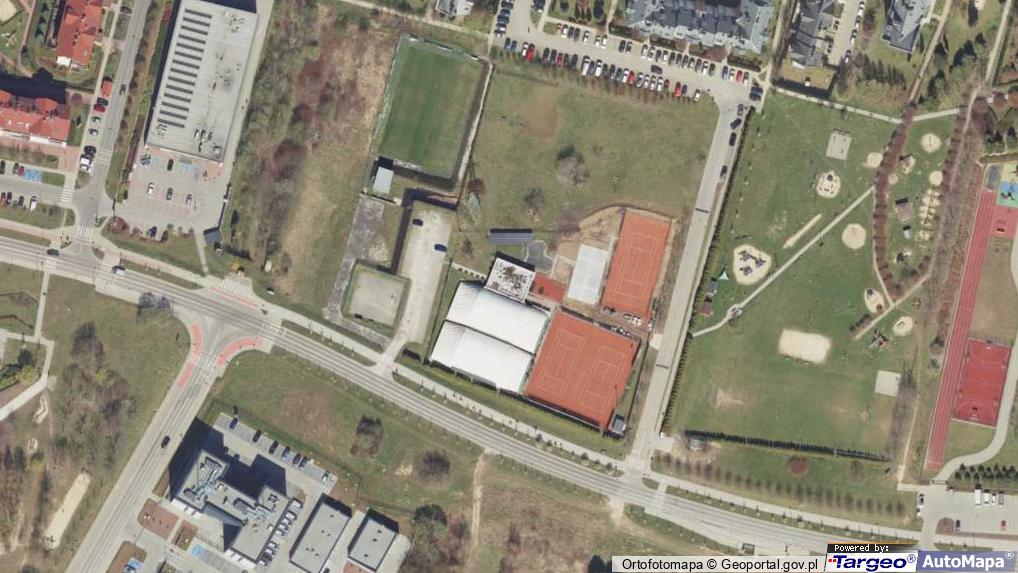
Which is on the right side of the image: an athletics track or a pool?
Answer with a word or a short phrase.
athletics track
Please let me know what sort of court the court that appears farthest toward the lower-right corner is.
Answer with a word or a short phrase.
basketball court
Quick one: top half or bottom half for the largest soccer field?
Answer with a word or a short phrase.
top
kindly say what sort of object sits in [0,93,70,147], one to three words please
house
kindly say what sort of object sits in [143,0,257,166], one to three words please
warehouse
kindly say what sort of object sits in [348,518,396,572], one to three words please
building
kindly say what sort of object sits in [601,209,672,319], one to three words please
tennis court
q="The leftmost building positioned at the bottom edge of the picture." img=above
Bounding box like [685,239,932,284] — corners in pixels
[172,450,290,568]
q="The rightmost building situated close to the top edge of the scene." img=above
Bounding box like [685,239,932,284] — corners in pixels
[879,0,933,52]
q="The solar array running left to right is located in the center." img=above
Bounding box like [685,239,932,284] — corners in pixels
[490,231,534,245]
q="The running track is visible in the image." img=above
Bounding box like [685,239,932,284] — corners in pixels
[924,187,998,470]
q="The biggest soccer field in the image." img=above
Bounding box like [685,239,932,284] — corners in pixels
[374,35,488,191]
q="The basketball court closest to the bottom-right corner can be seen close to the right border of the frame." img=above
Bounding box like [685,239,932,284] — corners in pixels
[952,337,1013,428]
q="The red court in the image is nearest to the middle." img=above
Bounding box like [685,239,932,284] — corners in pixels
[528,272,566,303]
